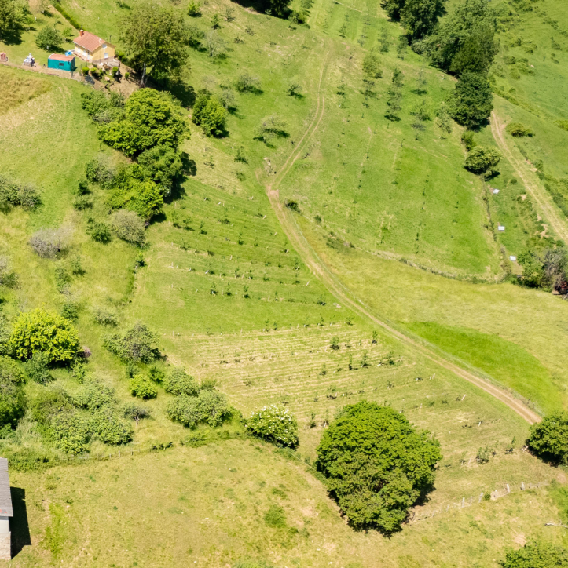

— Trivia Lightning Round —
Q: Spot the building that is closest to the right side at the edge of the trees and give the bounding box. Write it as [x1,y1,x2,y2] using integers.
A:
[76,29,119,62]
